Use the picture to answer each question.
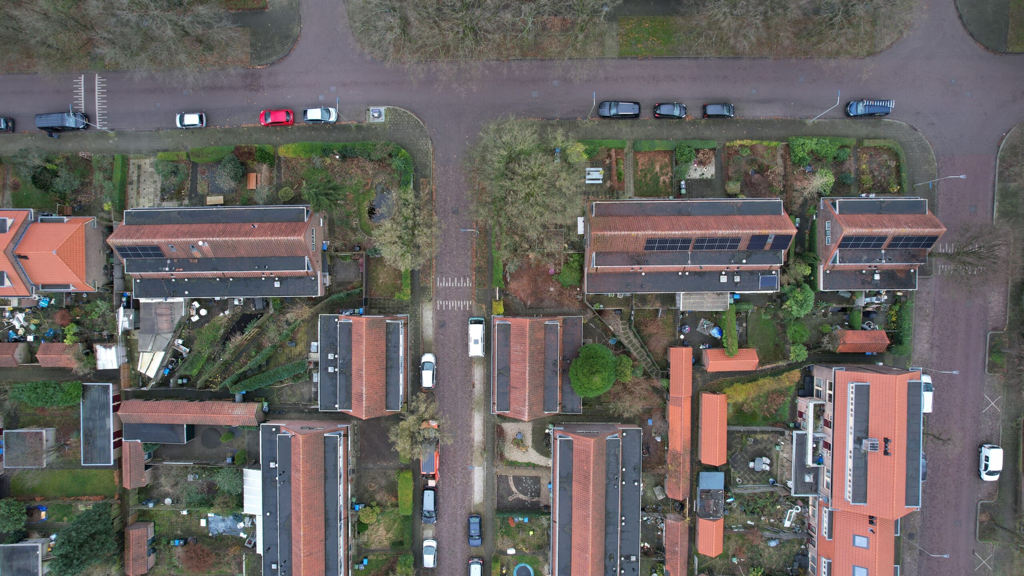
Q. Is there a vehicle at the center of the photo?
Yes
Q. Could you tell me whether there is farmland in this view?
No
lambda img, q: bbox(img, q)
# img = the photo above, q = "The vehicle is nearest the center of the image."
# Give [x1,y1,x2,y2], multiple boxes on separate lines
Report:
[467,316,485,357]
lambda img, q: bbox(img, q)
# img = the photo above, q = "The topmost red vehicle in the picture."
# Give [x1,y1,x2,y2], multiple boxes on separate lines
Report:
[261,108,295,126]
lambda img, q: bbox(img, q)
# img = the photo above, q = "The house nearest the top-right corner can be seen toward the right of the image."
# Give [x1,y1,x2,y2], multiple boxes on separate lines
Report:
[809,197,948,290]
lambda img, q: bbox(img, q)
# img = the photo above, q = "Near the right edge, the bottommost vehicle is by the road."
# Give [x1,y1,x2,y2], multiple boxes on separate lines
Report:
[976,443,1000,480]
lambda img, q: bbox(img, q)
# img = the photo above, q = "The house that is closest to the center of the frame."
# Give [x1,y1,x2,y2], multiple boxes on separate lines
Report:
[489,315,583,422]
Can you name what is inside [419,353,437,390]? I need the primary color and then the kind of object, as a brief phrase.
white car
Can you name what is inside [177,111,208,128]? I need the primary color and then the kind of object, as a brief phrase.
white car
